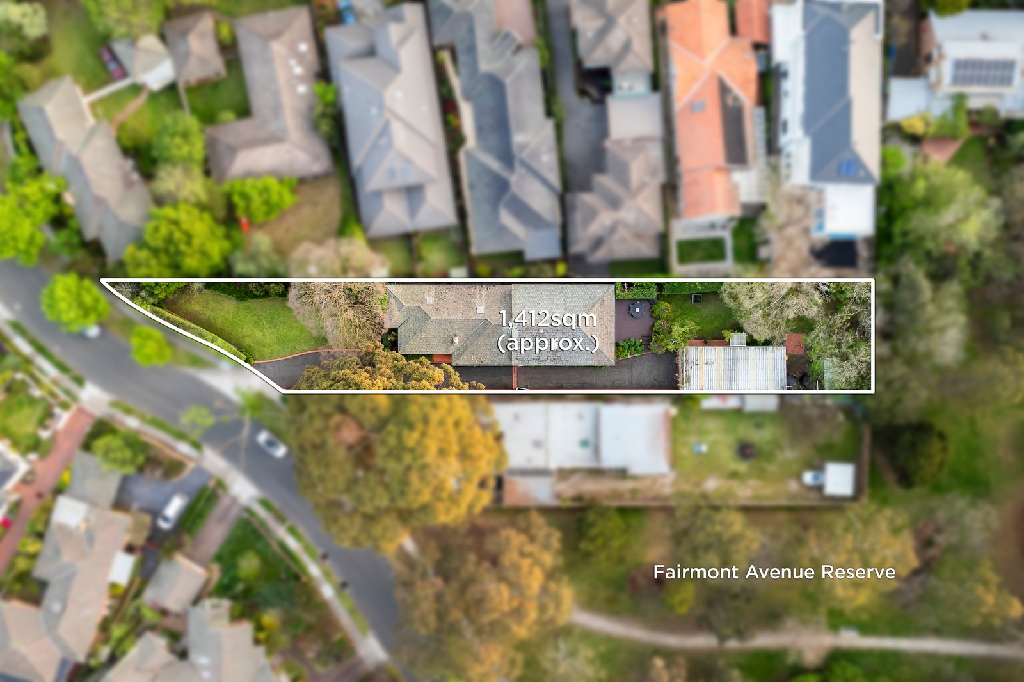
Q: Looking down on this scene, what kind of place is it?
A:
residential area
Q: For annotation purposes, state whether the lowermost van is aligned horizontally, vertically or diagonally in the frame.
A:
diagonally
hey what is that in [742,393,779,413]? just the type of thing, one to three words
shed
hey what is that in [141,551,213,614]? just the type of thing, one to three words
building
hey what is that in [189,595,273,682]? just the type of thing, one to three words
house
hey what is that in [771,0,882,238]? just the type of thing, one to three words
house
